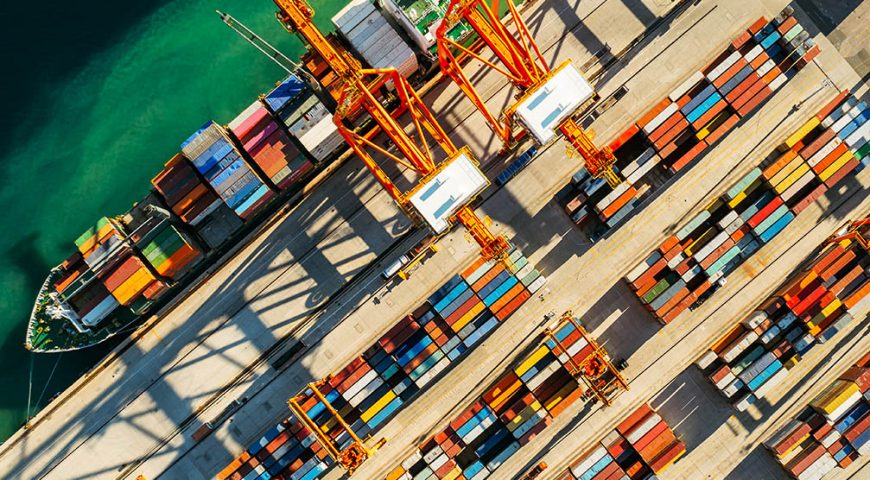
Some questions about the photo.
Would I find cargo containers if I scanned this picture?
Yes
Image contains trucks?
Yes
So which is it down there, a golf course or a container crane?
container crane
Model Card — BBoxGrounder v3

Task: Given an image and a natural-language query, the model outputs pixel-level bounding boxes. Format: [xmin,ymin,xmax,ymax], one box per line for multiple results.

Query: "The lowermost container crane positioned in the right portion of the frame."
[535,313,636,408]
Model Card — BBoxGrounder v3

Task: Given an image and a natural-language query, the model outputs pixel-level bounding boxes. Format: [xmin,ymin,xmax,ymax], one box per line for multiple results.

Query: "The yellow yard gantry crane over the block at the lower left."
[286,373,399,477]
